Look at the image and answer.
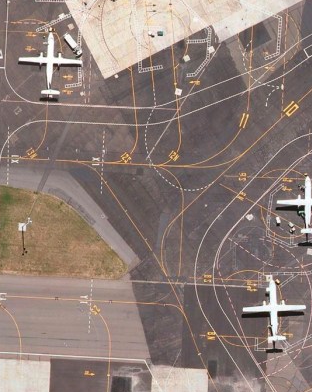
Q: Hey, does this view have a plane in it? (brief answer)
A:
Yes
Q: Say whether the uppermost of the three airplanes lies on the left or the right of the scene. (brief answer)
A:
left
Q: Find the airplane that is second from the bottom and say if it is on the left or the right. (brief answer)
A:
right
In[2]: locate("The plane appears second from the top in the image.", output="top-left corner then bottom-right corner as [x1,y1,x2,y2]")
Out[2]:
[277,176,312,234]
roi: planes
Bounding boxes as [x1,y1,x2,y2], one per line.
[277,176,312,234]
[242,281,306,343]
[19,32,82,95]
